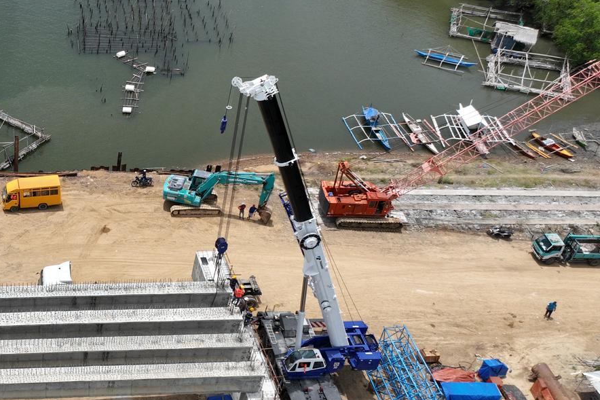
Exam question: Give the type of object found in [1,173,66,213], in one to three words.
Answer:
vehicle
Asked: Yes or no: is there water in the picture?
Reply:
Yes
